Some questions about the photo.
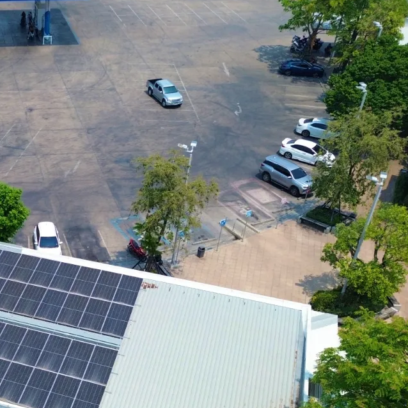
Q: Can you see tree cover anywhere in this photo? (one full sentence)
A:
Yes, some tree cover is visible.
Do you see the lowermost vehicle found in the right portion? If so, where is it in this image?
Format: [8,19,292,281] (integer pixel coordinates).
[259,155,320,195]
